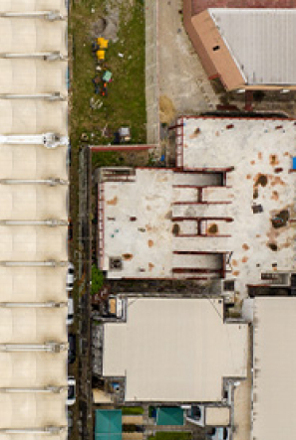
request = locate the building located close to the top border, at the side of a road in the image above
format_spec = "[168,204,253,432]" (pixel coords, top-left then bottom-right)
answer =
[179,7,296,94]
